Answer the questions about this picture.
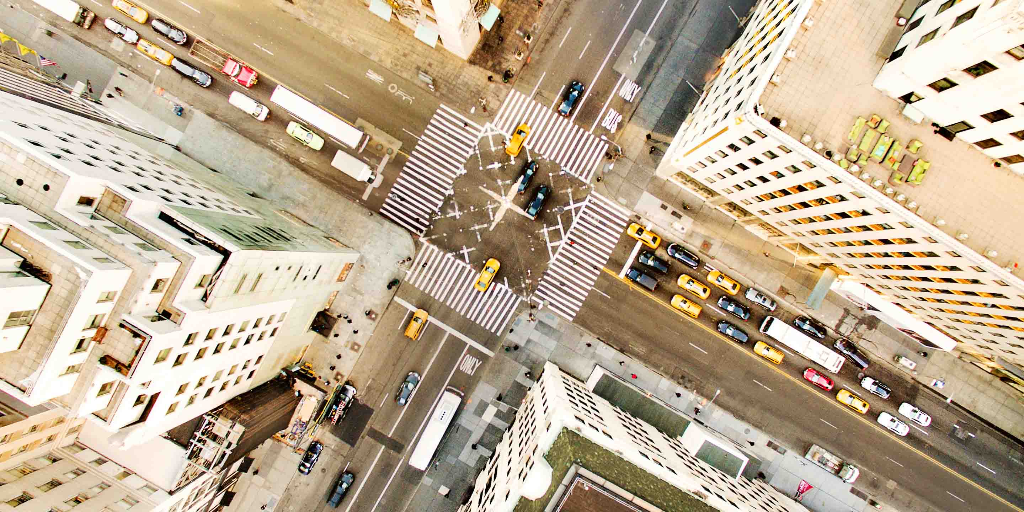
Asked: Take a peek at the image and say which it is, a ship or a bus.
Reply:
bus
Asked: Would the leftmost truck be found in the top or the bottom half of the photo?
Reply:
top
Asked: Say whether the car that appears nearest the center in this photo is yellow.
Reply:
Yes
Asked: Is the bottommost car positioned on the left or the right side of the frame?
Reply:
left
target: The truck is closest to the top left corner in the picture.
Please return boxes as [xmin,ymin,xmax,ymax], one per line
[35,0,105,35]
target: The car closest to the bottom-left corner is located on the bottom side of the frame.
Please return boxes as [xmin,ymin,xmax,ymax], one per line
[297,440,325,478]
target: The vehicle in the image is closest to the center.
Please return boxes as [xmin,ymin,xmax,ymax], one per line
[474,256,501,294]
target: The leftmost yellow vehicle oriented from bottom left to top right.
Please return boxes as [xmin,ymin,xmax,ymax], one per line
[402,306,431,343]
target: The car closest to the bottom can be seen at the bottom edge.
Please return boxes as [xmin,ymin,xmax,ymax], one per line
[327,471,354,508]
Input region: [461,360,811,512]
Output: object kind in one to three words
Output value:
building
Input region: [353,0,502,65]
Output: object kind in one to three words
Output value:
building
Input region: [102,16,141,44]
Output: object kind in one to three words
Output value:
car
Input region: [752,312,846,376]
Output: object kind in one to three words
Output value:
bus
